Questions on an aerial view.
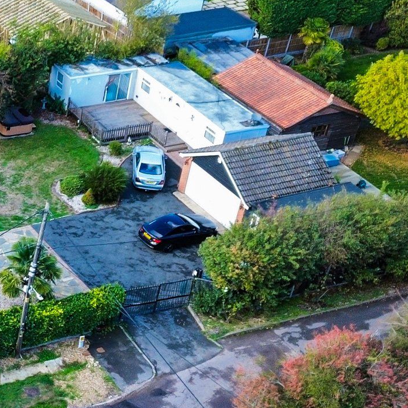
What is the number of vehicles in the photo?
2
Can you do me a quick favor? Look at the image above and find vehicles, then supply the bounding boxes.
[129,147,165,190]
[137,213,215,256]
